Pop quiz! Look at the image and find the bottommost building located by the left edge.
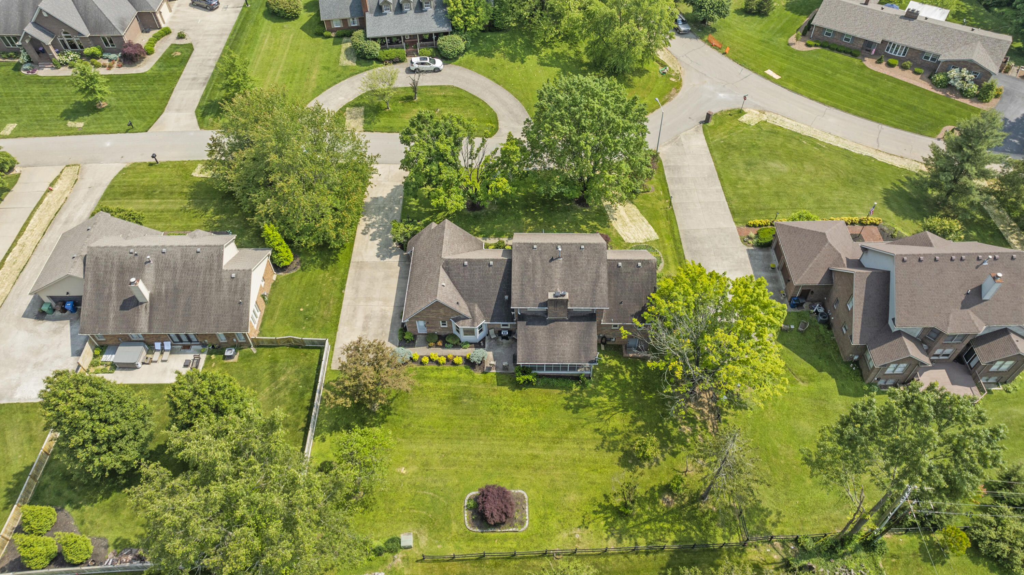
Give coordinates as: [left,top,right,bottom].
[28,212,277,347]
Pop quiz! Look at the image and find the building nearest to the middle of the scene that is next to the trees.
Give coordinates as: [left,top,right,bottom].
[401,219,657,376]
